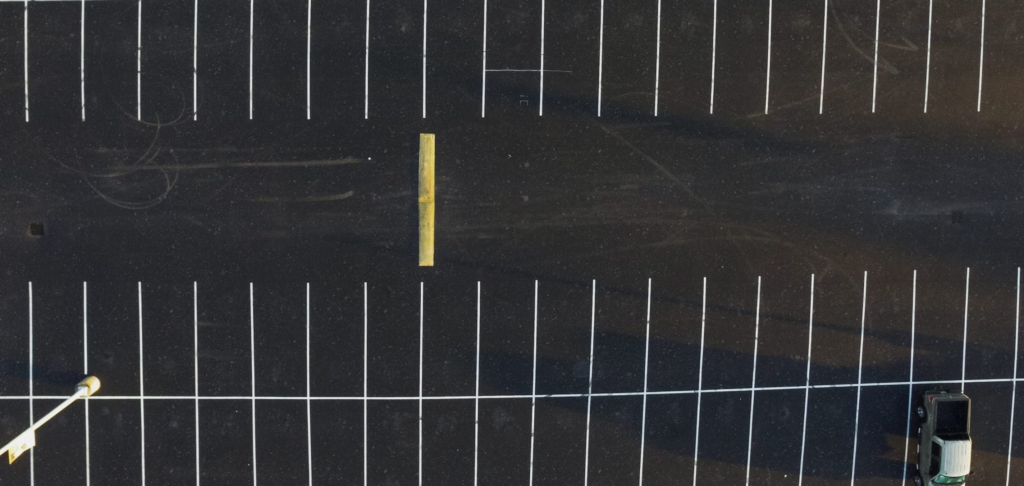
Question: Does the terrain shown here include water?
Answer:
No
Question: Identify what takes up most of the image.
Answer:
paved ground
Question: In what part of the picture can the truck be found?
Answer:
bottom right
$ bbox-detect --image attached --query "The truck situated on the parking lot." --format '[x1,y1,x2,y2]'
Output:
[914,385,974,486]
